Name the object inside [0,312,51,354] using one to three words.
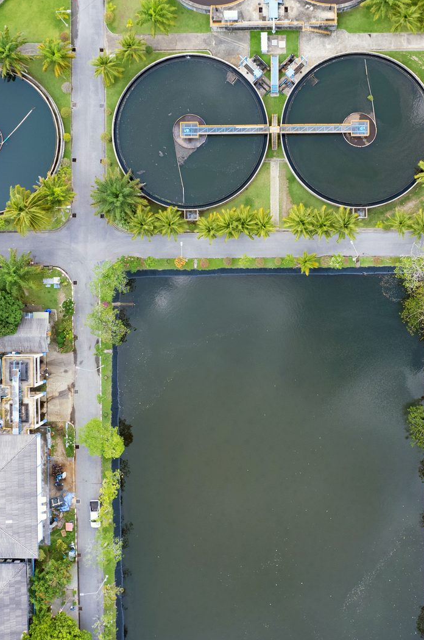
shed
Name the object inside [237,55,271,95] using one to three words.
building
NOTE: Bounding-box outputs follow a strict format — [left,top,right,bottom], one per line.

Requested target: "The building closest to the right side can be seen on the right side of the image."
[279,55,311,94]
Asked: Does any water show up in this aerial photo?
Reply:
Yes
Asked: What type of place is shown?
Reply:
industrial area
